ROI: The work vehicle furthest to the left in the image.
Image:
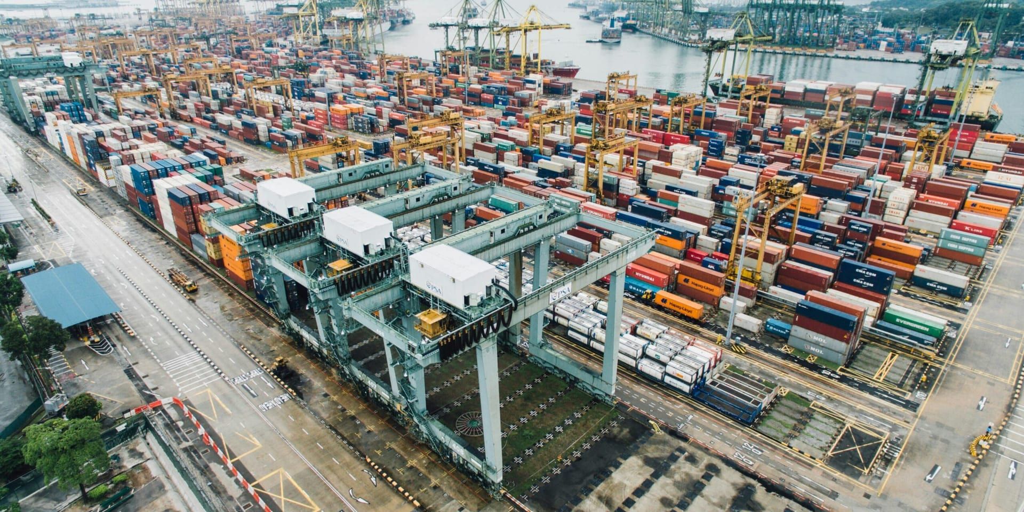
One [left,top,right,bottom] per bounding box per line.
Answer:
[2,181,29,193]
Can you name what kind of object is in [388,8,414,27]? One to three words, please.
ship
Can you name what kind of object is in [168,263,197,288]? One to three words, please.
truck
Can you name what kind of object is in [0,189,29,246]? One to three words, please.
shed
